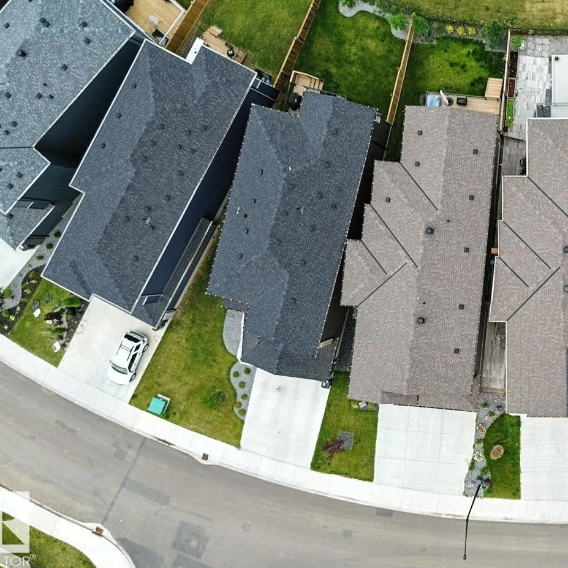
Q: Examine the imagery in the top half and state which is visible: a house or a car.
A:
house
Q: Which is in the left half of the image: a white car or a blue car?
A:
white car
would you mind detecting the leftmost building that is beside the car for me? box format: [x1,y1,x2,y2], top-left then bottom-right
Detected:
[40,37,269,330]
